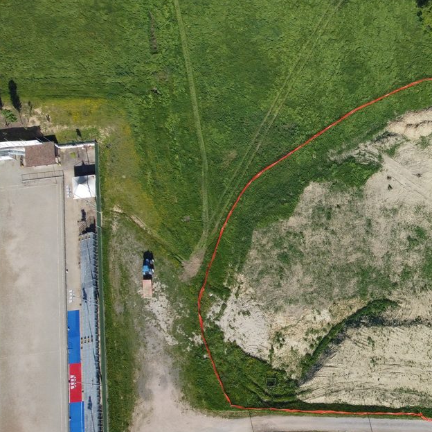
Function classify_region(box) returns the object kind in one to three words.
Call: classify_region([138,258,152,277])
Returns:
work vehicle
